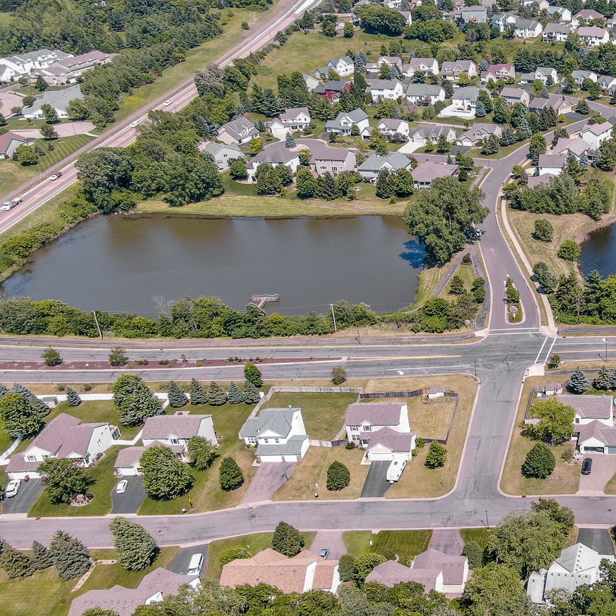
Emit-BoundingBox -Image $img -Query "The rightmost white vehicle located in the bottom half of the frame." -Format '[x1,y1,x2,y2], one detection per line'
[386,454,406,486]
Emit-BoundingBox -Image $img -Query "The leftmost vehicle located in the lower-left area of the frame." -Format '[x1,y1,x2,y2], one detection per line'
[4,480,20,497]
